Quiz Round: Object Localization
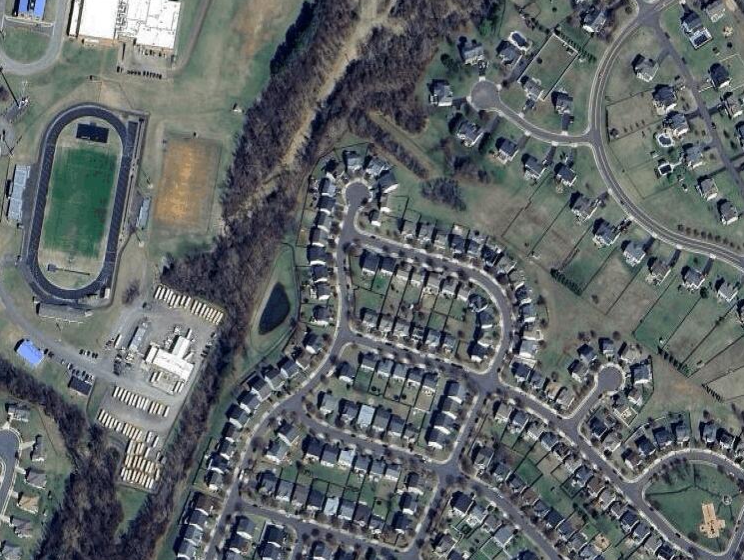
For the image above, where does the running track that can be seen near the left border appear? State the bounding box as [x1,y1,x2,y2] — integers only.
[24,107,135,299]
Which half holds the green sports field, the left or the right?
left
